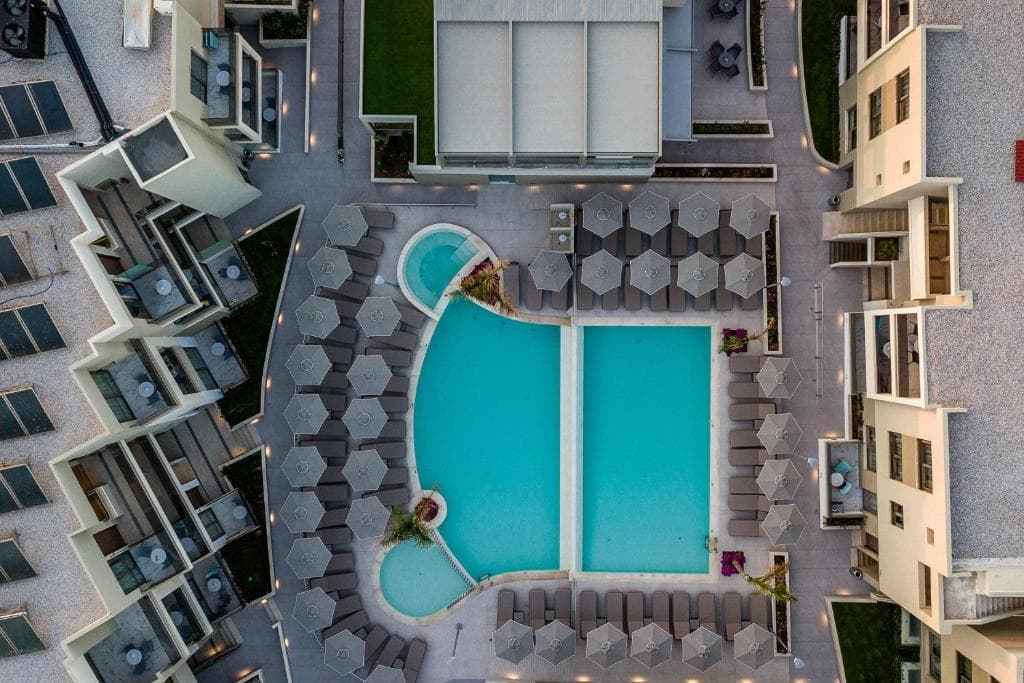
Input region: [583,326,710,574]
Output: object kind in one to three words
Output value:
swimming pool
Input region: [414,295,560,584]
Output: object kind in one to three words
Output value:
swimming pool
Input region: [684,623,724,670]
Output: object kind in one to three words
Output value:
umbrella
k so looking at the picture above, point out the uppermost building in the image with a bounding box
[363,0,664,184]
